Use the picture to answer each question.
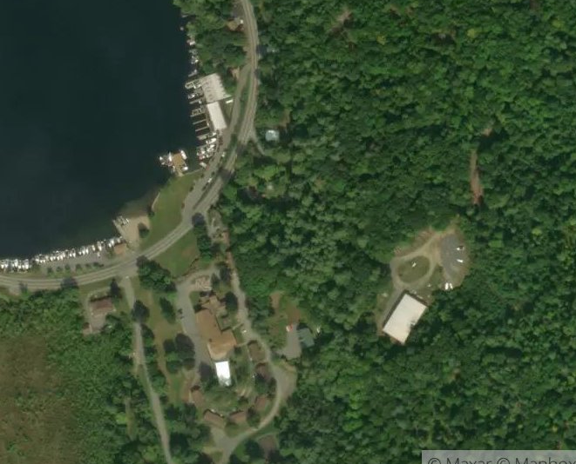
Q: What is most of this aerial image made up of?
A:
trees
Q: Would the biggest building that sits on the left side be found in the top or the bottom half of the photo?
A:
bottom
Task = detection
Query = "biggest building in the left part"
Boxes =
[195,297,239,358]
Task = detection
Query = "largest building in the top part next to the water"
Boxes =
[200,74,231,103]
